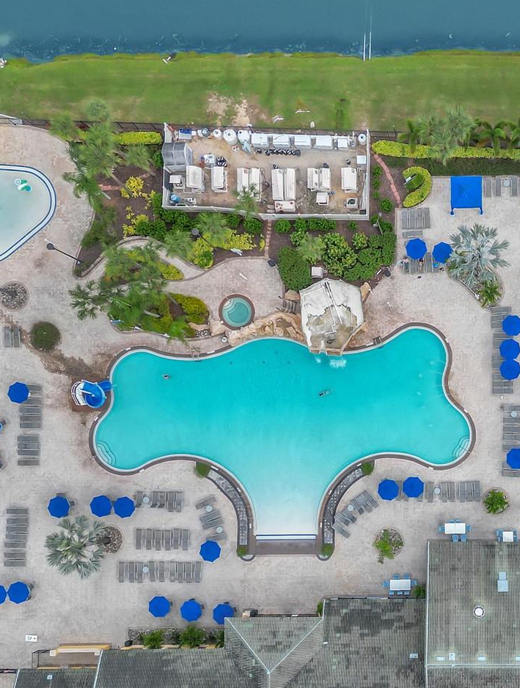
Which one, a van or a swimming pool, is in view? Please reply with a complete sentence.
There is a swimming pool in the scene.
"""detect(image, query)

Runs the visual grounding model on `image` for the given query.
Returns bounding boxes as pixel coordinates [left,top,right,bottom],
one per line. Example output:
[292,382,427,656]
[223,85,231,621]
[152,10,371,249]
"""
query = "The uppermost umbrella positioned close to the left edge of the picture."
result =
[8,381,33,404]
